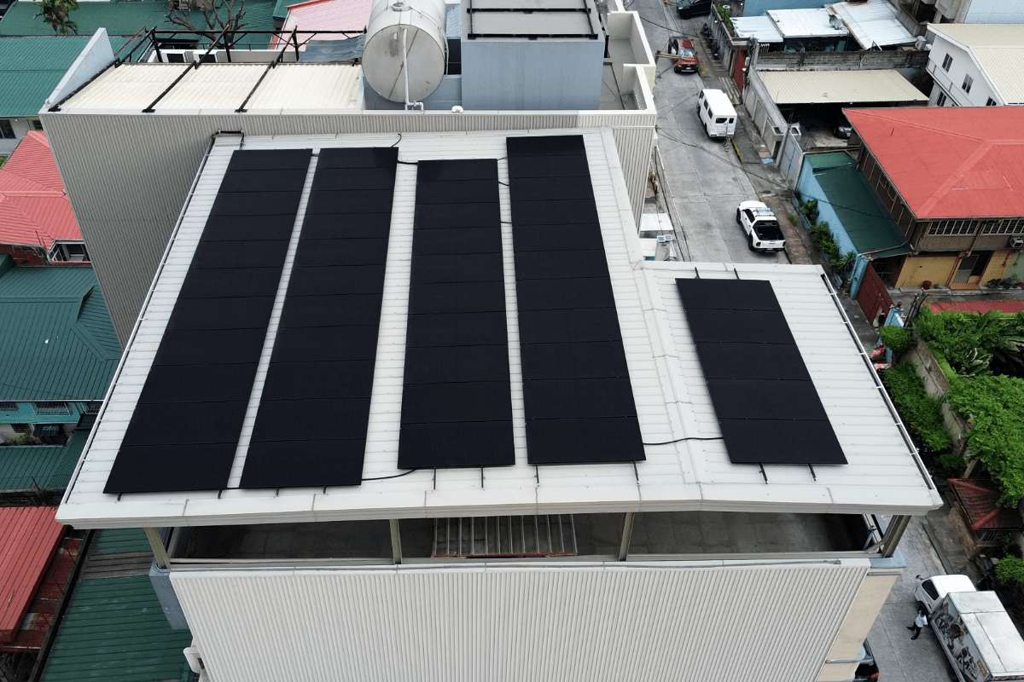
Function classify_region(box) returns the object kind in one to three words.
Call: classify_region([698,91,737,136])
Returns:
van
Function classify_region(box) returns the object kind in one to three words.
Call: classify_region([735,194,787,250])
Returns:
truck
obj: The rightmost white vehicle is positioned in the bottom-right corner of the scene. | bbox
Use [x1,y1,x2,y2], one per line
[913,569,1024,682]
